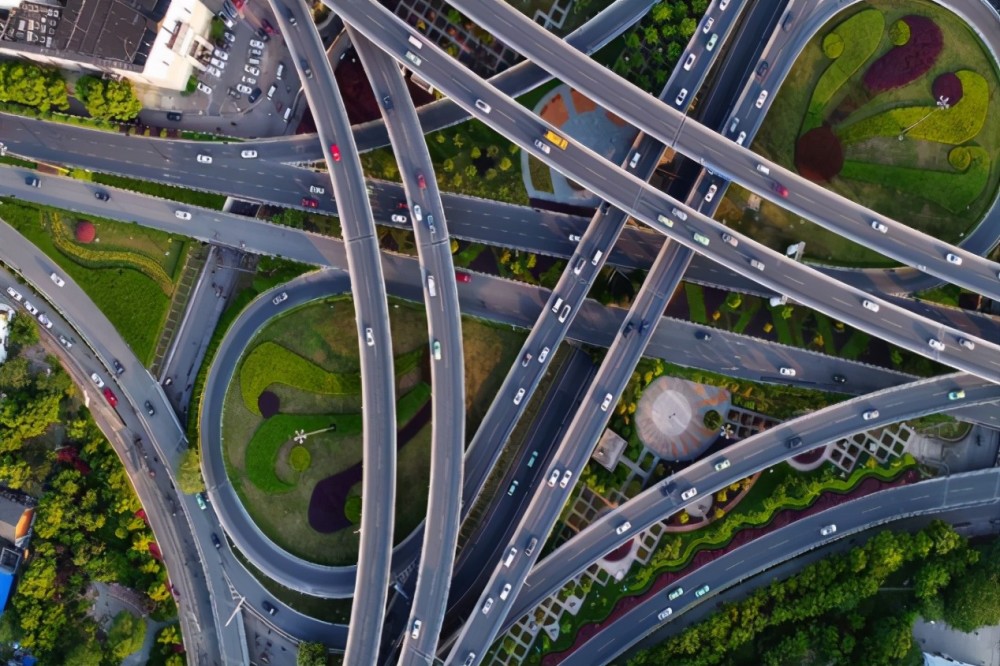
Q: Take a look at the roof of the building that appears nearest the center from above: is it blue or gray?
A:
gray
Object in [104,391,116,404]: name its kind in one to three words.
vehicle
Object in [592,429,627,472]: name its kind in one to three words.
building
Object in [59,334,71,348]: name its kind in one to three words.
vehicle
